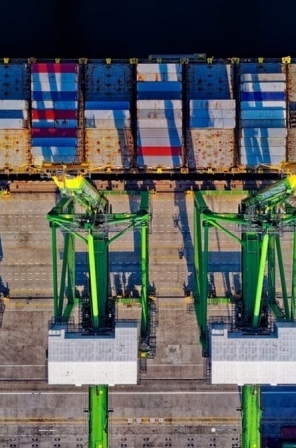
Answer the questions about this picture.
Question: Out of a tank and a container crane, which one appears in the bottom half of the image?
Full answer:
The one visible in the bottom half of the image is a container crane.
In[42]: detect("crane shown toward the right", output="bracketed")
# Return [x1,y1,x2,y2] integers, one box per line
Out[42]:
[175,161,296,448]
